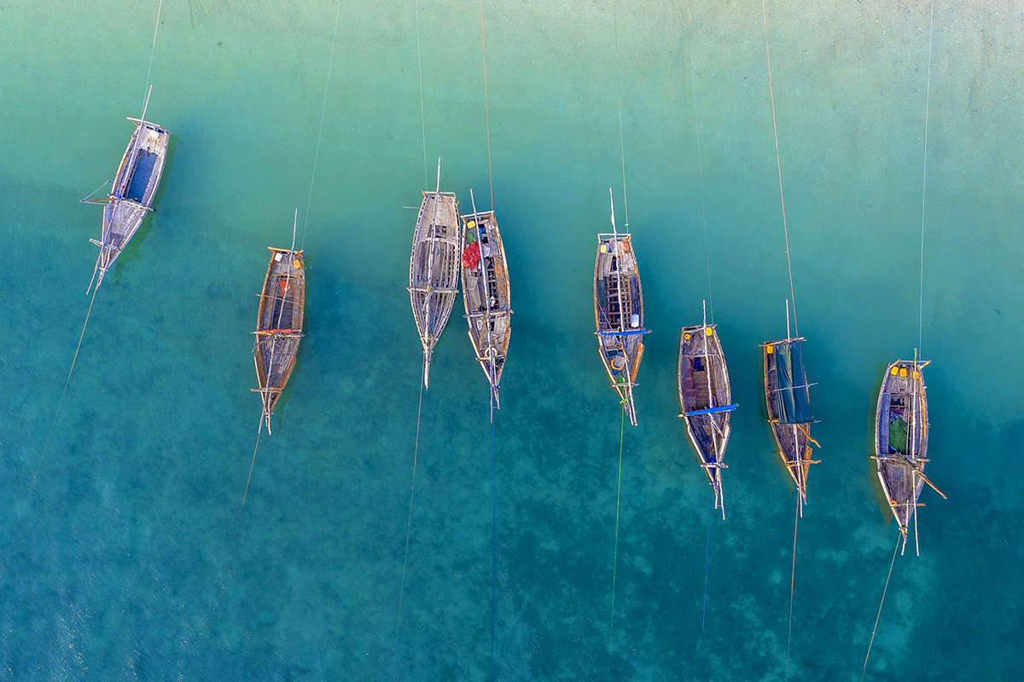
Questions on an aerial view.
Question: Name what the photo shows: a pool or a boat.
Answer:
boat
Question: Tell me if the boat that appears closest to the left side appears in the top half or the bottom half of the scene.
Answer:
top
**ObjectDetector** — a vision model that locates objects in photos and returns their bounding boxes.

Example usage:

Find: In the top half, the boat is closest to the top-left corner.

[81,85,177,294]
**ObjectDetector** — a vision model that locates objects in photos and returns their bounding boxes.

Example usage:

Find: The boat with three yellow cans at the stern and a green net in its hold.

[869,349,932,556]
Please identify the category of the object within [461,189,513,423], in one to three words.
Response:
boat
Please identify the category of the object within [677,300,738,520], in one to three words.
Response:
boat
